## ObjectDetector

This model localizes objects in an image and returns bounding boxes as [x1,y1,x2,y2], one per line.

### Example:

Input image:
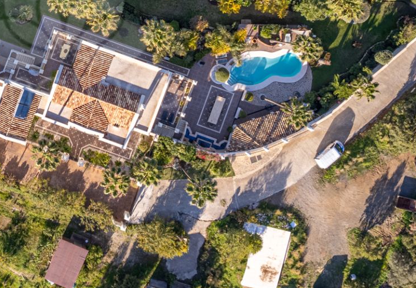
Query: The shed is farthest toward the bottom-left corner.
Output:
[45,233,89,288]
